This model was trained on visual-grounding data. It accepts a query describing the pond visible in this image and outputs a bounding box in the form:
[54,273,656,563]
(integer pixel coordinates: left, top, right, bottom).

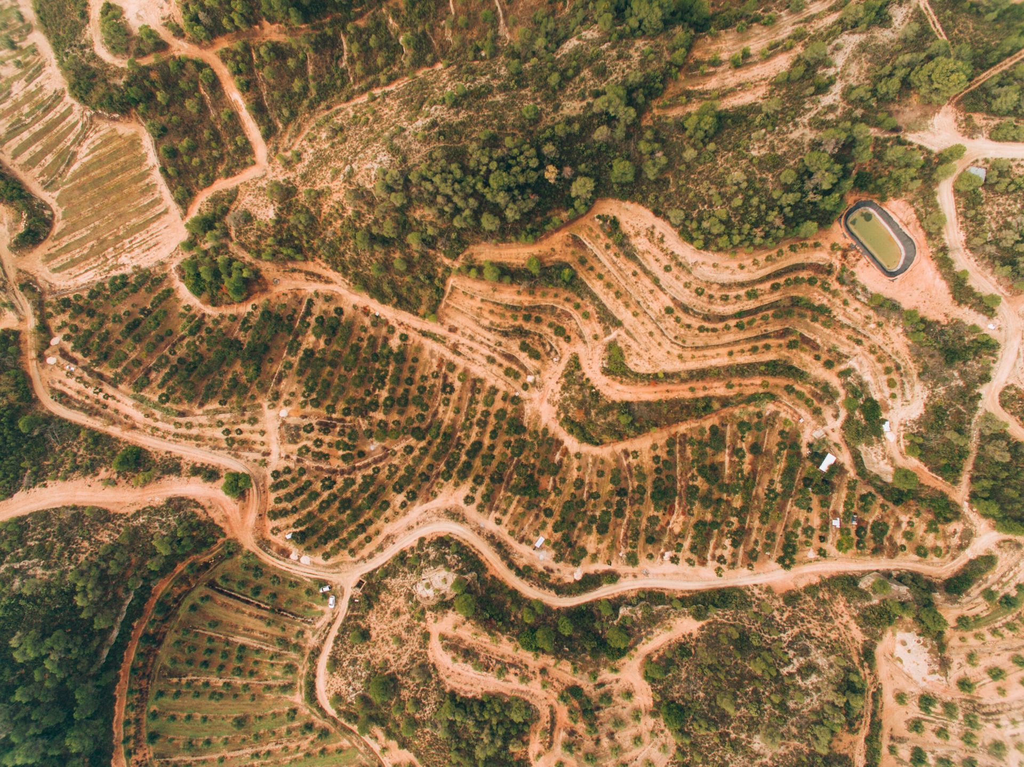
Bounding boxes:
[843,200,916,277]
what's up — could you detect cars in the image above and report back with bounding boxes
[329,595,335,608]
[320,585,331,592]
